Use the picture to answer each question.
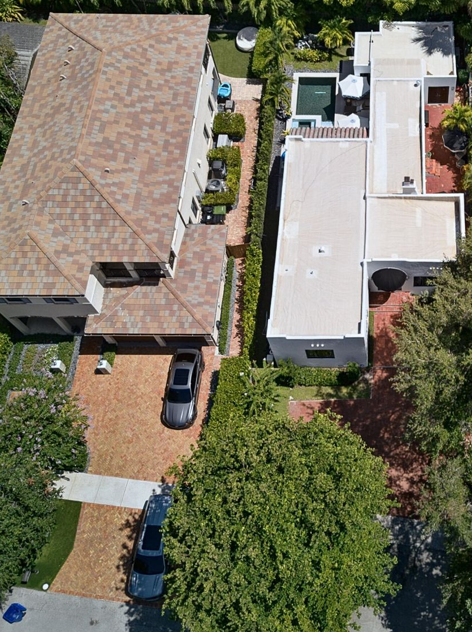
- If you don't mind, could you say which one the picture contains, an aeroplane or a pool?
pool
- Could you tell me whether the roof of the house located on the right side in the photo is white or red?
white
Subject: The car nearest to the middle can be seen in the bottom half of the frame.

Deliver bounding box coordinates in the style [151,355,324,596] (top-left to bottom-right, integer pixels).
[159,351,206,431]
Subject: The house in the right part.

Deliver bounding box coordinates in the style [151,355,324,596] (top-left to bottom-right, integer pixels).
[267,25,467,366]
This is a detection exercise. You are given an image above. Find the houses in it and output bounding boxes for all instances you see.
[0,12,233,346]
[267,25,467,366]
